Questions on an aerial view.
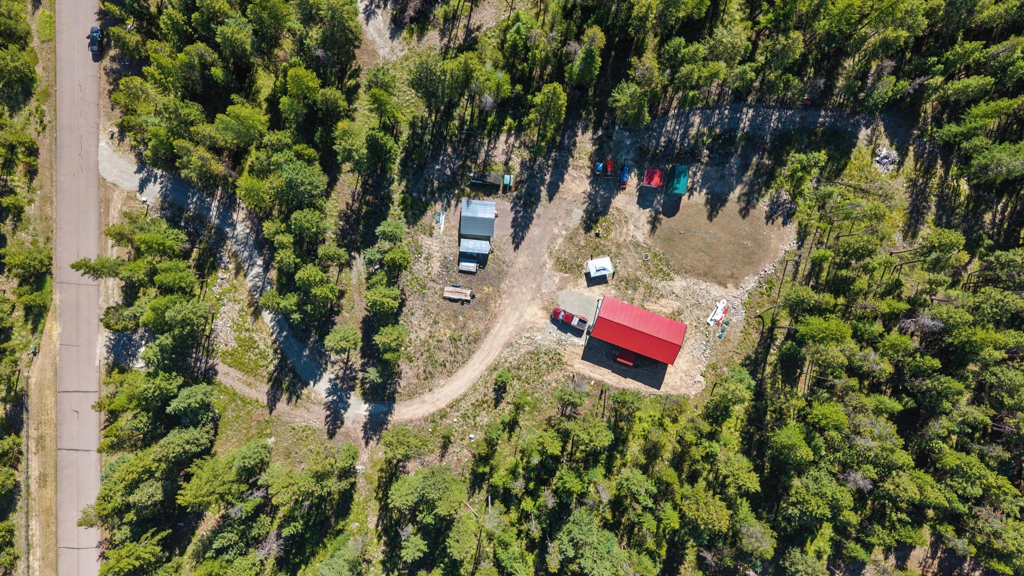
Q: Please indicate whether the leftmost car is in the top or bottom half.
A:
top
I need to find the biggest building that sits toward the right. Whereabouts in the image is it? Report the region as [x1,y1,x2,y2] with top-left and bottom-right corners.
[590,295,687,364]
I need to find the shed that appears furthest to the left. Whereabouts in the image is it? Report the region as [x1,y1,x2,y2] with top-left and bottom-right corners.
[461,201,496,236]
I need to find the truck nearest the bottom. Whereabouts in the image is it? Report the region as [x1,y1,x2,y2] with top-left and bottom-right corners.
[549,307,589,333]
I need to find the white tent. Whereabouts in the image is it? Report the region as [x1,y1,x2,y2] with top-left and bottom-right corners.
[587,257,613,277]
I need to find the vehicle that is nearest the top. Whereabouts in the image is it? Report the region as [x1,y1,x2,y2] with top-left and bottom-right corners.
[84,27,105,54]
